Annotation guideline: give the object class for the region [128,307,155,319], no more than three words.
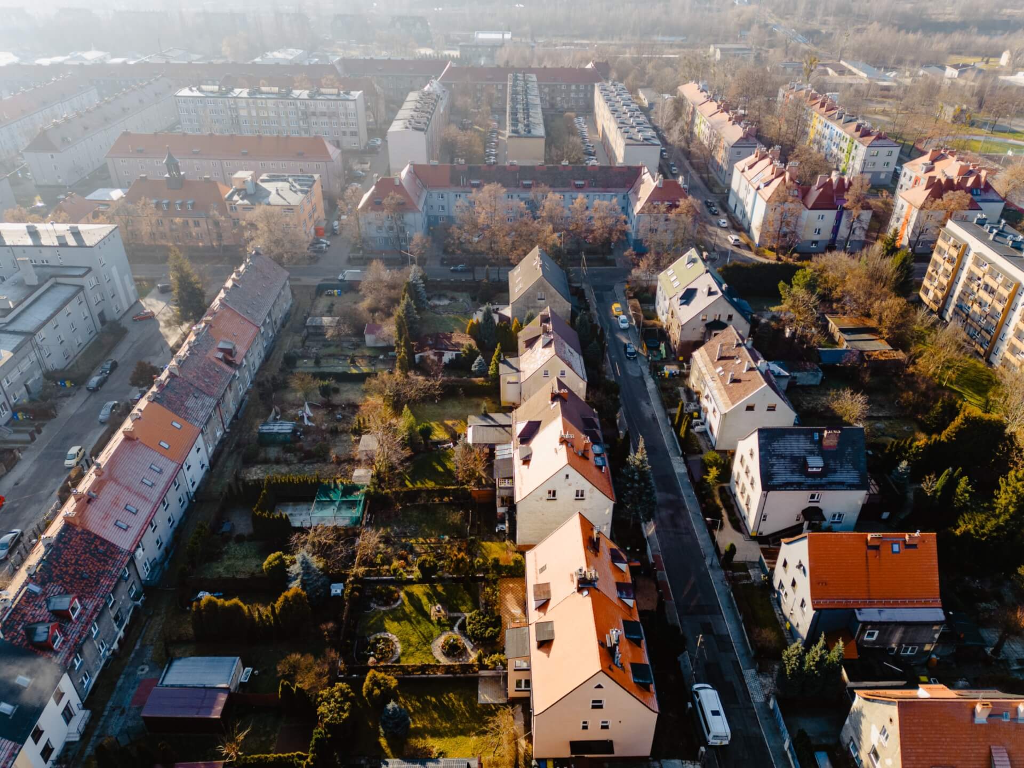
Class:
vehicle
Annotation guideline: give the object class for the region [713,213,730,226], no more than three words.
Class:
vehicle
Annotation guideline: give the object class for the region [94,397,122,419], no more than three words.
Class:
car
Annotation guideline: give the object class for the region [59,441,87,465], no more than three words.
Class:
car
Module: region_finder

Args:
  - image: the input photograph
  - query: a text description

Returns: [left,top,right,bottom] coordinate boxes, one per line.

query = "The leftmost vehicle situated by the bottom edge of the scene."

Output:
[694,686,733,745]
